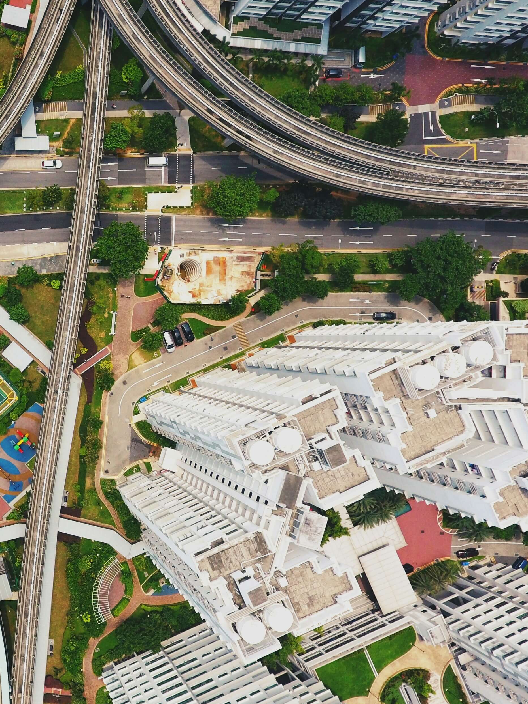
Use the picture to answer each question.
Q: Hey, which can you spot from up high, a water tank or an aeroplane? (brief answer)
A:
water tank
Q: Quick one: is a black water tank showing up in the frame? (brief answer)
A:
No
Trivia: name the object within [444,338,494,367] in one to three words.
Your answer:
water tank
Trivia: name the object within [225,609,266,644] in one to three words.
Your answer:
water tank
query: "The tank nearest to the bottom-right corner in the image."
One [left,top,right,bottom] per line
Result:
[252,592,293,632]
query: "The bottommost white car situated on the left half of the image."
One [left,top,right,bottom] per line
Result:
[163,330,176,351]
